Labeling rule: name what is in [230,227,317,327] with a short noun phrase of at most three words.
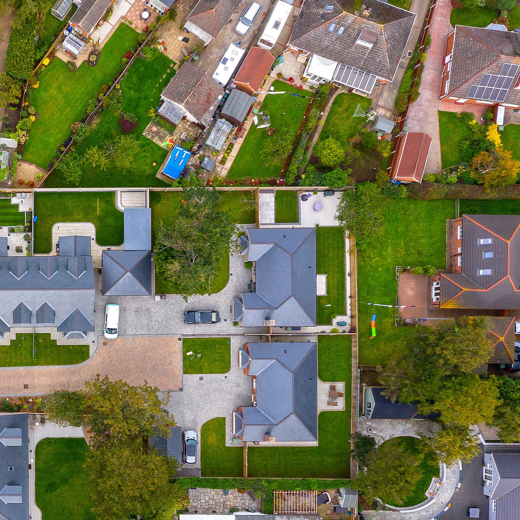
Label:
house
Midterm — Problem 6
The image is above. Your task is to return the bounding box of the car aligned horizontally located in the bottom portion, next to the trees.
[183,309,219,325]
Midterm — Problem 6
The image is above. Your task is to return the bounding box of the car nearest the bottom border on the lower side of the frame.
[183,430,199,465]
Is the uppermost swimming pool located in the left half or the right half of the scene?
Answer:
left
